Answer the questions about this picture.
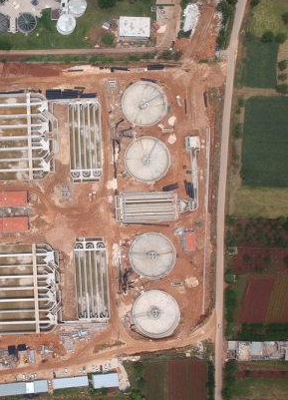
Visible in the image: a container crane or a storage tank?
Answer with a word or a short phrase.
storage tank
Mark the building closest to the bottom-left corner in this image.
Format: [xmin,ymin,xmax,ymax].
[0,379,48,396]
